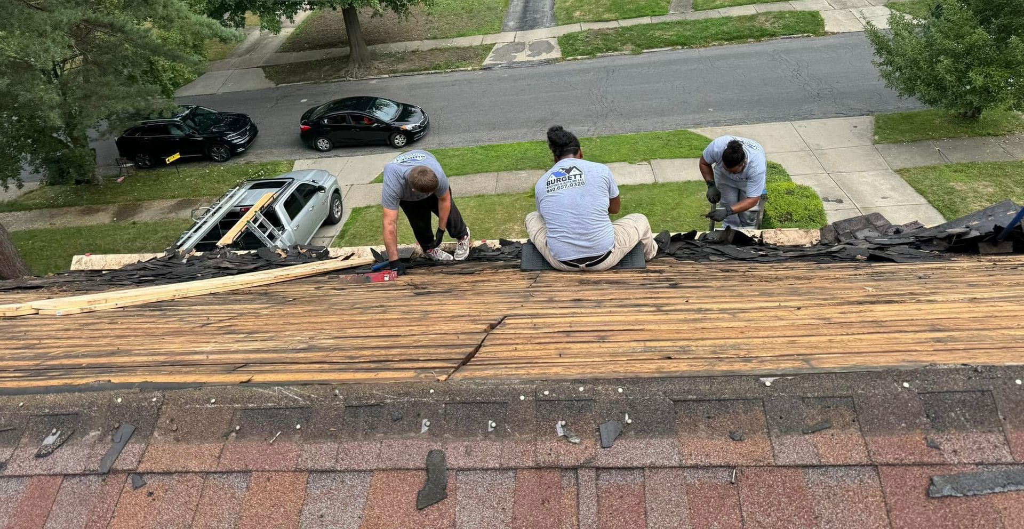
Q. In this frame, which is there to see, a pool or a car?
car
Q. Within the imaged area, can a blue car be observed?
No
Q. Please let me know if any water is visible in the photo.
No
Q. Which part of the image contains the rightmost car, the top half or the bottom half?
top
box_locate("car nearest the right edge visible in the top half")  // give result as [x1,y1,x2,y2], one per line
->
[295,94,429,152]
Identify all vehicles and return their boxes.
[105,98,257,169]
[295,94,429,152]
[203,170,347,249]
